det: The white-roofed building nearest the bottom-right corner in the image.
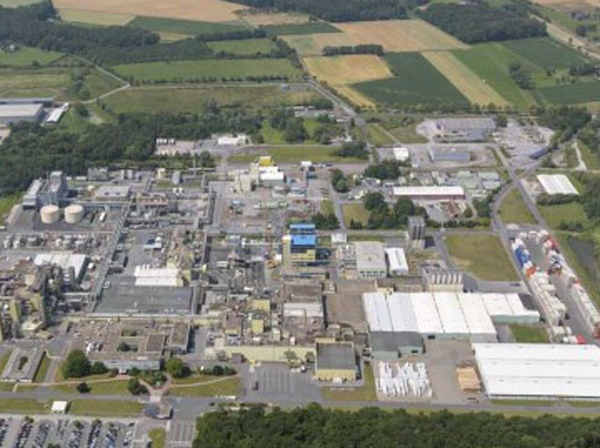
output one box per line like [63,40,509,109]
[472,343,600,402]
